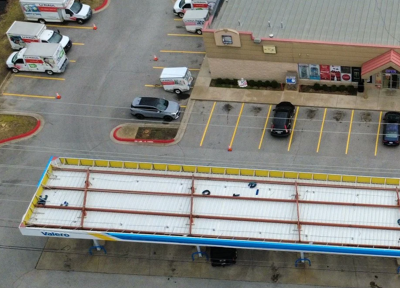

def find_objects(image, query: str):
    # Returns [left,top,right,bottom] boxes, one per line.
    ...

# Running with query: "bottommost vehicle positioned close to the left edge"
[5,42,69,76]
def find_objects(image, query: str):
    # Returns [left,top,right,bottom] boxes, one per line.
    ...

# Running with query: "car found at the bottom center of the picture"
[210,246,240,273]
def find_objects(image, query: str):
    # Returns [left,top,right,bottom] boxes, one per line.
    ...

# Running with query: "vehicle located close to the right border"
[381,111,400,147]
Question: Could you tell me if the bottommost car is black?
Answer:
Yes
